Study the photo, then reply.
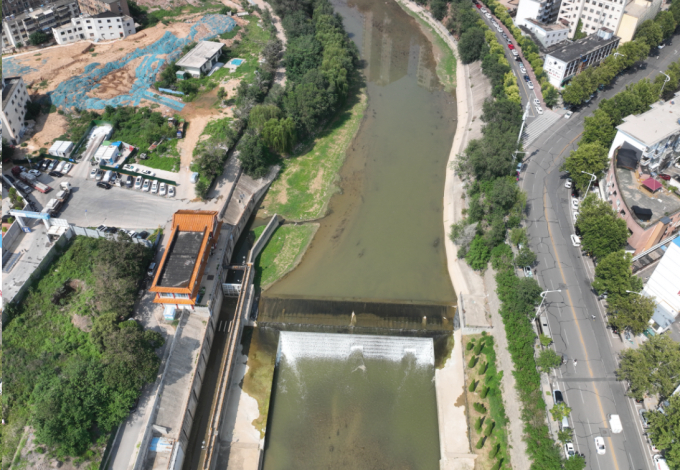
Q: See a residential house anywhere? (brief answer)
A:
Yes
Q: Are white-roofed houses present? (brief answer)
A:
Yes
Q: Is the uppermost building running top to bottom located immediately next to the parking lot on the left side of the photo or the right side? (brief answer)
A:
left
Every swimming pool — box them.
[225,58,246,73]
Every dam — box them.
[214,284,471,470]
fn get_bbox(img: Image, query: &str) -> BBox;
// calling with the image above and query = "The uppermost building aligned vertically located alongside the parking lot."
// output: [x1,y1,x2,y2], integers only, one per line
[0,76,31,149]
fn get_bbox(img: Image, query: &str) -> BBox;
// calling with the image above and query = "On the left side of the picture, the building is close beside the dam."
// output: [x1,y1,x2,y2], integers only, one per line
[149,214,223,315]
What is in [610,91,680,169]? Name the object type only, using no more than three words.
building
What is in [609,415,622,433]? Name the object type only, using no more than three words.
vehicle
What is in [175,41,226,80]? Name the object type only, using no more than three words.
house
